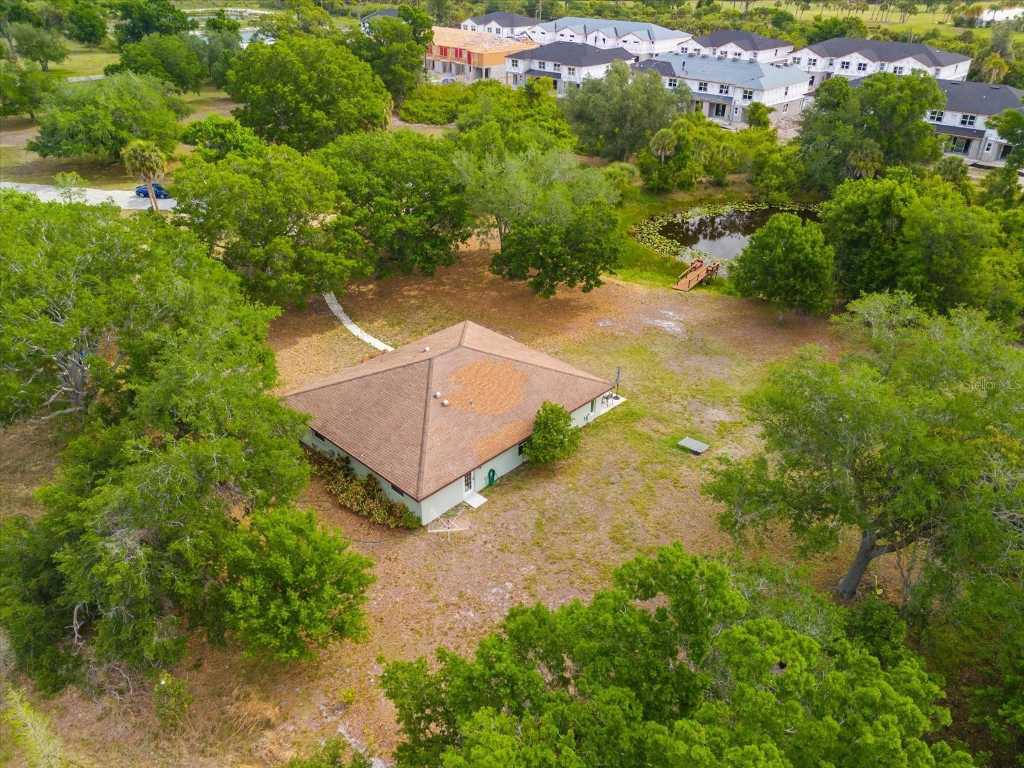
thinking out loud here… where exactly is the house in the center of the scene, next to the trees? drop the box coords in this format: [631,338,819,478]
[284,319,613,526]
